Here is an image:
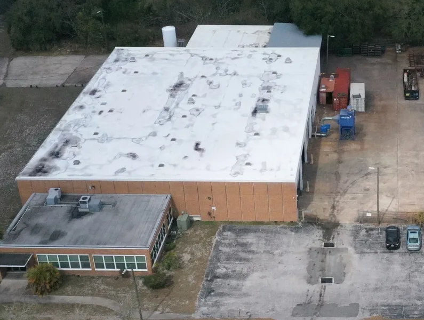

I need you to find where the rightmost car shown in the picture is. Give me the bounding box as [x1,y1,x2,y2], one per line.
[405,224,422,248]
